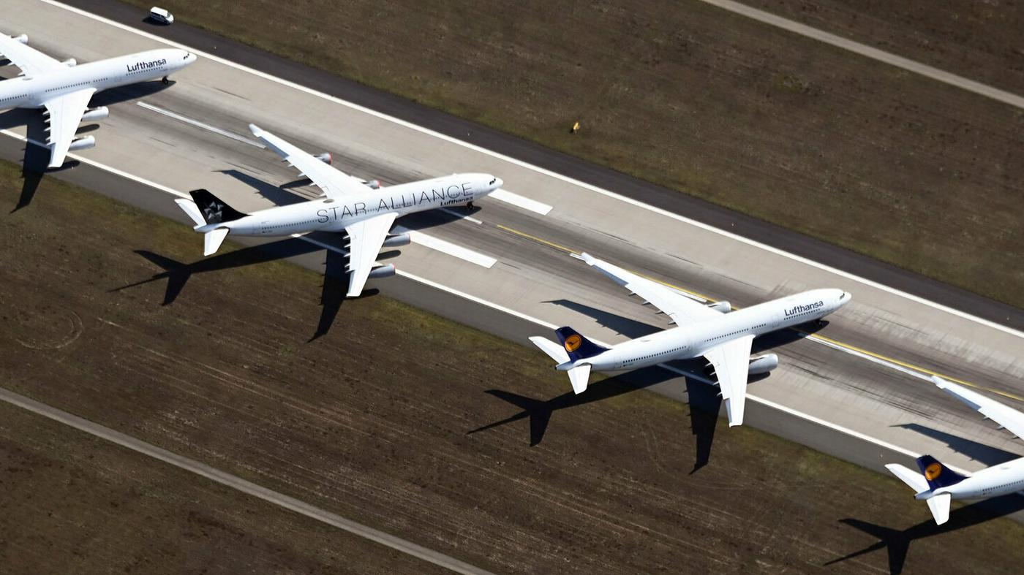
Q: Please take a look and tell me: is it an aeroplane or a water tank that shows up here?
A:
aeroplane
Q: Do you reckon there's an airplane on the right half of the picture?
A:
Yes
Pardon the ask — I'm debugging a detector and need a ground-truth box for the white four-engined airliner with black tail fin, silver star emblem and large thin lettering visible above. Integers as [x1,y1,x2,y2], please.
[174,122,503,297]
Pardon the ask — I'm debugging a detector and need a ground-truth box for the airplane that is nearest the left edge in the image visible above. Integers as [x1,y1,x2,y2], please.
[0,31,197,169]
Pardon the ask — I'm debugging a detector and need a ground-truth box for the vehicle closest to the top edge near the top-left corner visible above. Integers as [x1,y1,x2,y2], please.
[148,10,173,27]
